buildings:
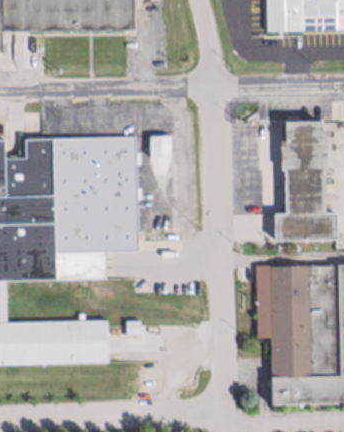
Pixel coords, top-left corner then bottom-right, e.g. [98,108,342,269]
[150,134,172,158]
[126,319,142,334]
[0,312,110,367]
[256,264,344,404]
[0,0,136,34]
[264,0,344,38]
[274,120,337,242]
[0,136,142,322]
